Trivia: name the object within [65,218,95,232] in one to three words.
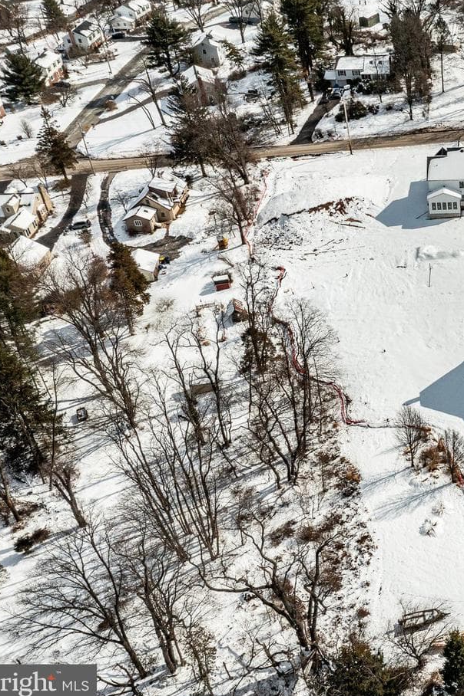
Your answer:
car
